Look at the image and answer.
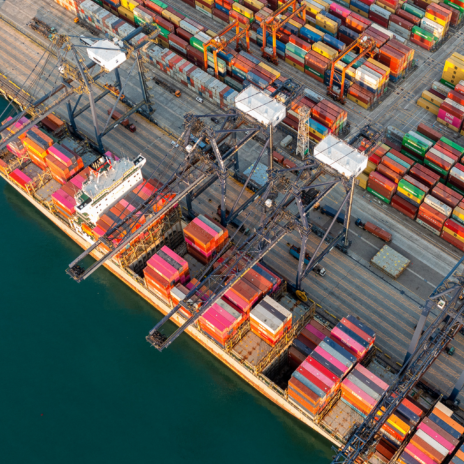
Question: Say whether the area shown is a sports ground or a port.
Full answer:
The picture captures a port.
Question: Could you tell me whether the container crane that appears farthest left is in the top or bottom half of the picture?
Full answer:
The top half of the photo is where the container crane that appears farthest left is.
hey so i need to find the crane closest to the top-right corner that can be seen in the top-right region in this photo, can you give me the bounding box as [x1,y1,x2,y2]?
[327,32,377,101]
